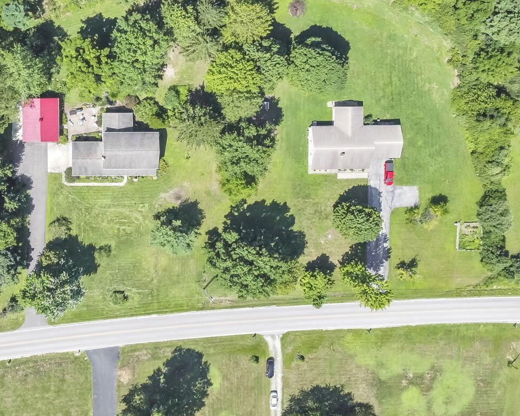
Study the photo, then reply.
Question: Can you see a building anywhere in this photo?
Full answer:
Yes, a building can be made out from above.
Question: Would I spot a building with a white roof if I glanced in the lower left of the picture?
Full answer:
No, in the lower left of the picture there is no building with a white roof.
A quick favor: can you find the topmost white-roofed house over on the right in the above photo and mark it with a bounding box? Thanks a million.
[308,105,404,180]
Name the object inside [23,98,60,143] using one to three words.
building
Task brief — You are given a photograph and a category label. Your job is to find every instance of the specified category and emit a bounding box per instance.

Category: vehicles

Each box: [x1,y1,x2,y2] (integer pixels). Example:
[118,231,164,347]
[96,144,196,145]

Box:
[270,391,279,411]
[384,161,395,186]
[265,358,276,379]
